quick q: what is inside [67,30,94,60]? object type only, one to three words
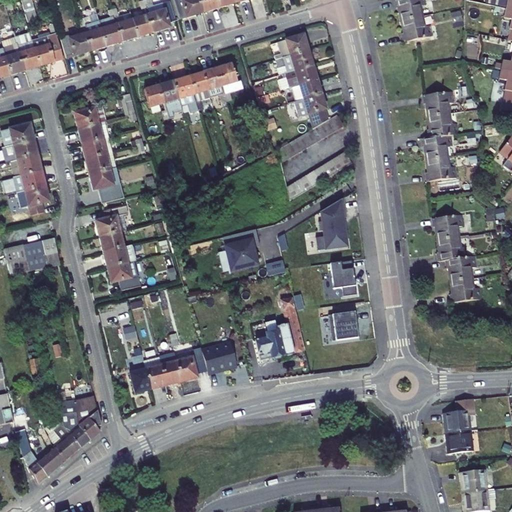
house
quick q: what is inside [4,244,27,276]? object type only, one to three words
building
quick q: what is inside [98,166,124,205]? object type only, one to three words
building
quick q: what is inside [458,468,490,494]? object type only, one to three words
house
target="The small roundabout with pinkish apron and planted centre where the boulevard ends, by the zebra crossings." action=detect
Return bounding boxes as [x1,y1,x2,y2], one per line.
[365,350,441,423]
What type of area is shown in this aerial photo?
residential area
